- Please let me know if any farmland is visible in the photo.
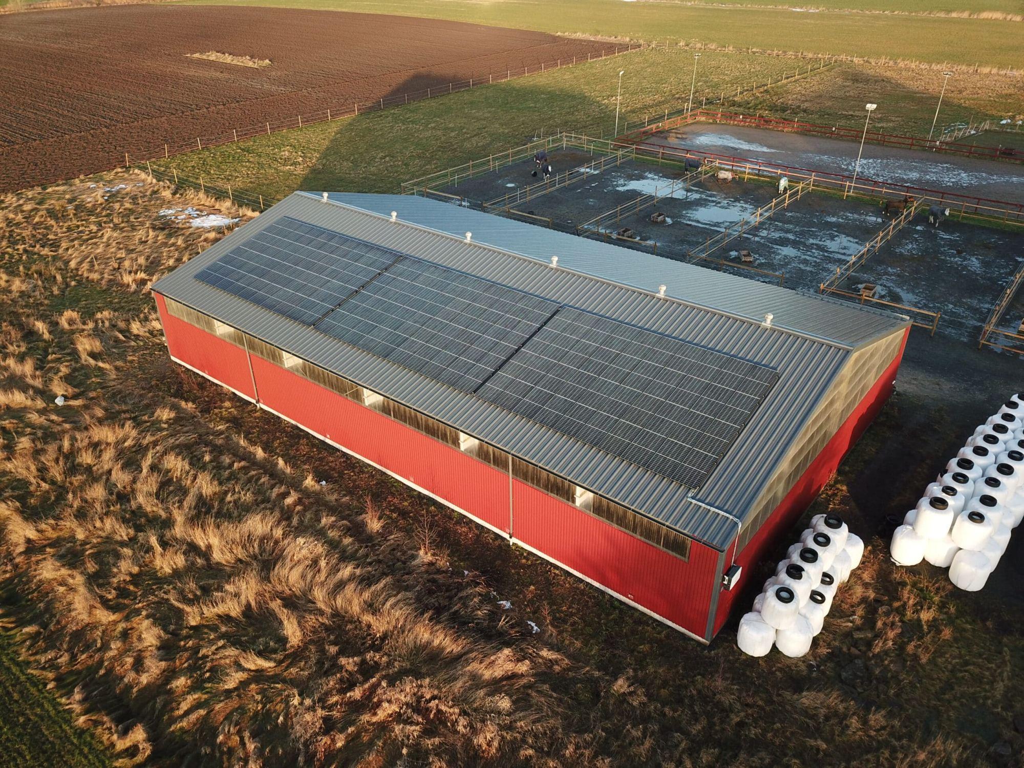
Yes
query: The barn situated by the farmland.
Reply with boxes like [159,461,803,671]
[148,189,914,642]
